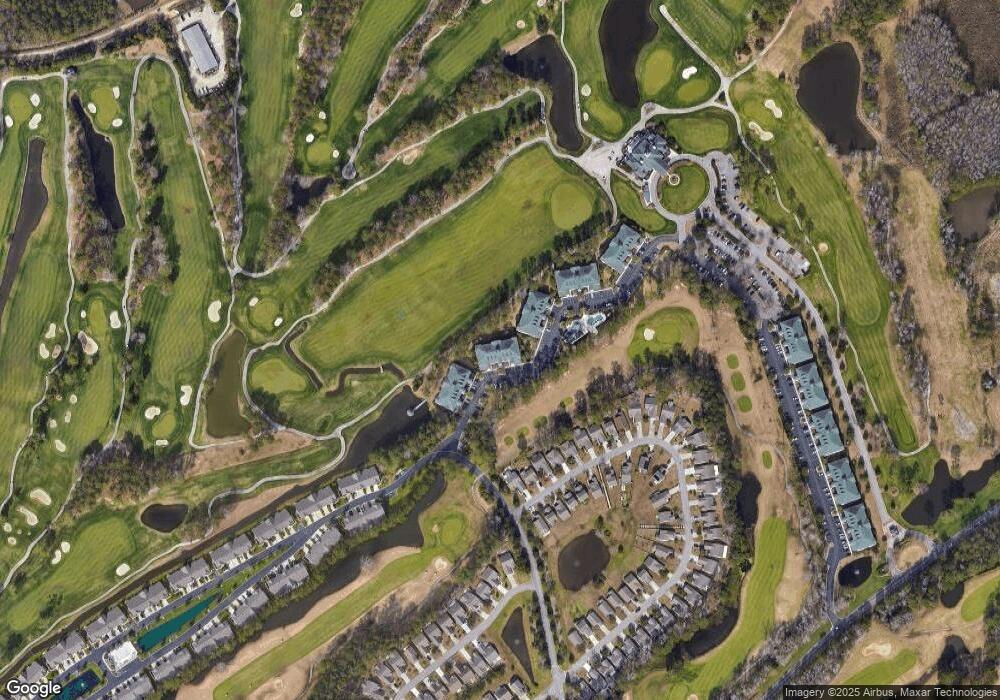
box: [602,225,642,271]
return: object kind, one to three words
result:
building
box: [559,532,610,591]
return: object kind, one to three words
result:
pond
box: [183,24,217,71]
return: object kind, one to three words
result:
shed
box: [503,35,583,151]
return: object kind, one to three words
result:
pond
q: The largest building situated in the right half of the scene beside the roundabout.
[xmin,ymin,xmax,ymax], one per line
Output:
[620,130,672,185]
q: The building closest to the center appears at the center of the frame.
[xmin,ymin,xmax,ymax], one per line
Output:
[476,338,521,370]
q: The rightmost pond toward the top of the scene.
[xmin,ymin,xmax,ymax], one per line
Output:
[949,186,1000,239]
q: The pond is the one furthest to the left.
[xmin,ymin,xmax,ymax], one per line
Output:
[0,137,48,304]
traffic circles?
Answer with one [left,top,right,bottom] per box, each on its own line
[653,155,717,219]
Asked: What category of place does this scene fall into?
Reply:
golf course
